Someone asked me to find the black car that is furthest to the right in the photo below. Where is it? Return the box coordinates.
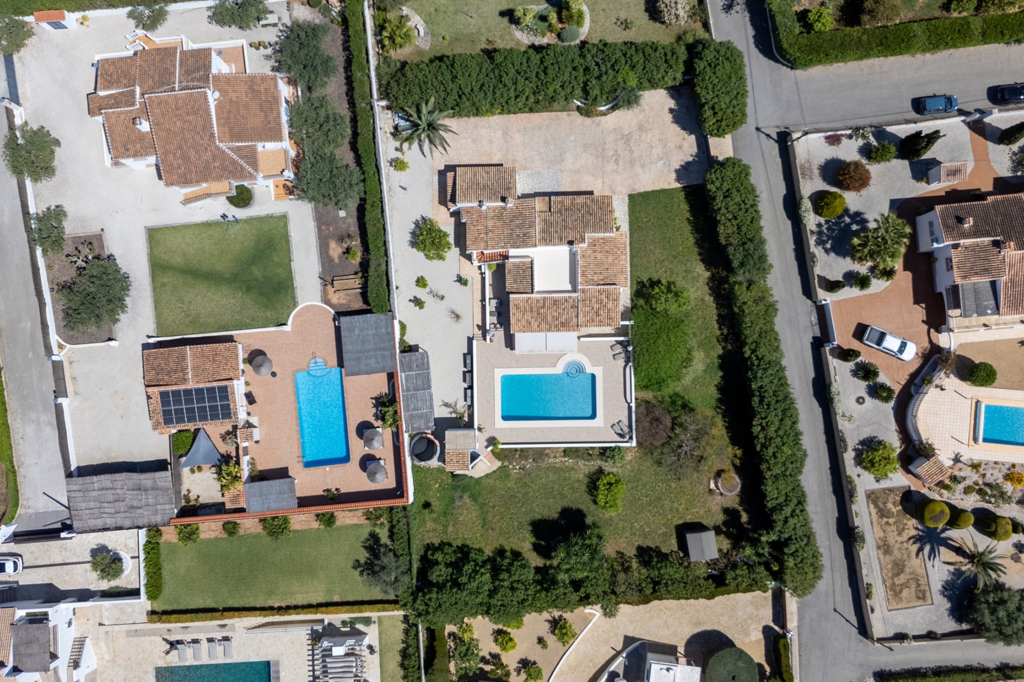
[998,84,1024,107]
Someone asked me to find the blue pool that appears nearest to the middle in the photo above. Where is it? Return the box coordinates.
[495,353,603,428]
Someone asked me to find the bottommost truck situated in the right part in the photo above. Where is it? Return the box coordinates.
[856,323,913,360]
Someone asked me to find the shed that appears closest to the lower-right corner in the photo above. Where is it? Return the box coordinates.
[910,456,948,486]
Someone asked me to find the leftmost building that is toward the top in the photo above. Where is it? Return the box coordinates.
[34,10,81,30]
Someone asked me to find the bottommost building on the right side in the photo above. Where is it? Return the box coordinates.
[594,633,701,682]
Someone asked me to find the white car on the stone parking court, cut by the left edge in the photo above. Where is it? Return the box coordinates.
[0,552,26,574]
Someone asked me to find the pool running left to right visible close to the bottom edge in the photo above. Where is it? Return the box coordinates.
[154,659,272,682]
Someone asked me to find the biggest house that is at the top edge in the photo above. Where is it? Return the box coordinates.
[87,26,300,204]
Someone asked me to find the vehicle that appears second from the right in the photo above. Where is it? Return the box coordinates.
[918,91,959,114]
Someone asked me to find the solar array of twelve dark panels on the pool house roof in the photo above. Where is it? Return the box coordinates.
[159,385,233,425]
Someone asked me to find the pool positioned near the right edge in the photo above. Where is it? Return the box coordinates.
[969,397,1024,454]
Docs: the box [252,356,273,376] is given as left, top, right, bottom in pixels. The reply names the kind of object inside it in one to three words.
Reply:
umbrella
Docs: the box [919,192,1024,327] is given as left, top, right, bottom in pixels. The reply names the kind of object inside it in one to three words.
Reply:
house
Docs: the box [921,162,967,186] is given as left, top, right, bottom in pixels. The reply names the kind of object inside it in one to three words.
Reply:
shed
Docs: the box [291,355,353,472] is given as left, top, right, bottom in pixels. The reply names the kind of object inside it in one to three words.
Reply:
swimming pool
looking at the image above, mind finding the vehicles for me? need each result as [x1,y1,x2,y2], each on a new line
[856,323,913,360]
[0,552,26,574]
[998,84,1024,107]
[918,91,959,114]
